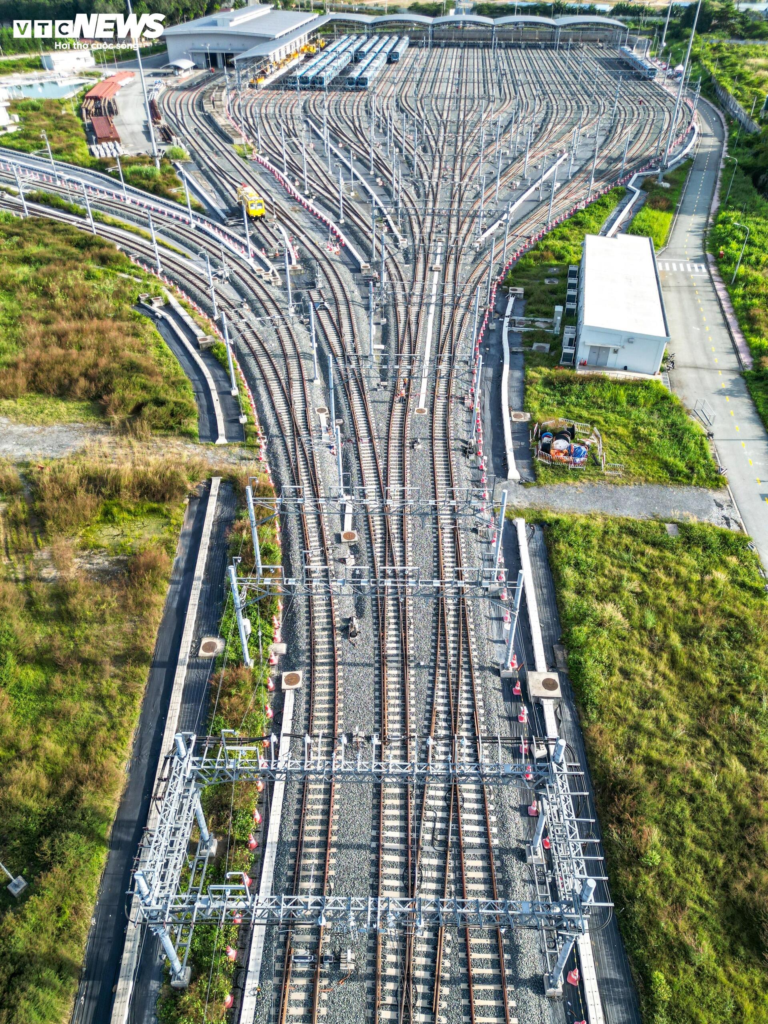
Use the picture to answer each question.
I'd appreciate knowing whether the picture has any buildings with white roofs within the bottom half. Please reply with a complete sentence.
No, there's no building with a white roof to be seen within the bottom half.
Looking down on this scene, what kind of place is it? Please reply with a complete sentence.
The picture captures a rail yard.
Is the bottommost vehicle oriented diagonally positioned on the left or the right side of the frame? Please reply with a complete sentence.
It is on the left.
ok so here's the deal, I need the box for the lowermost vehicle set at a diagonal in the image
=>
[228,173,265,219]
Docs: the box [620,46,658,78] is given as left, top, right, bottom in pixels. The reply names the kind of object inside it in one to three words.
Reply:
train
